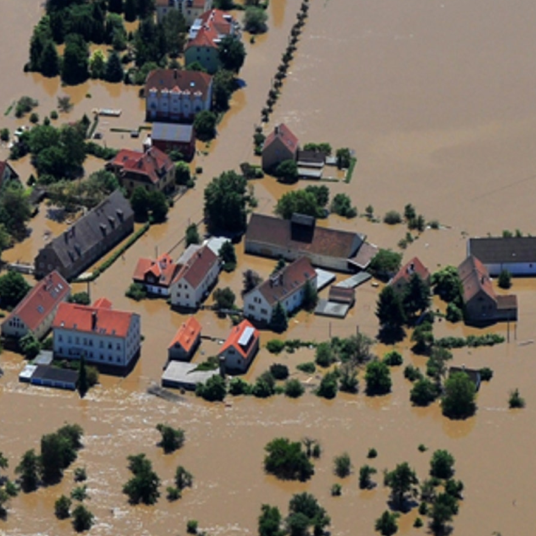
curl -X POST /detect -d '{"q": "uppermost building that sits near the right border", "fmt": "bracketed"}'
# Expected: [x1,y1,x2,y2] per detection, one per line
[465,237,536,276]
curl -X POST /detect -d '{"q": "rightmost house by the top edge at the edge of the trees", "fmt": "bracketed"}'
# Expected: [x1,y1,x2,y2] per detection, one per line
[186,9,234,69]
